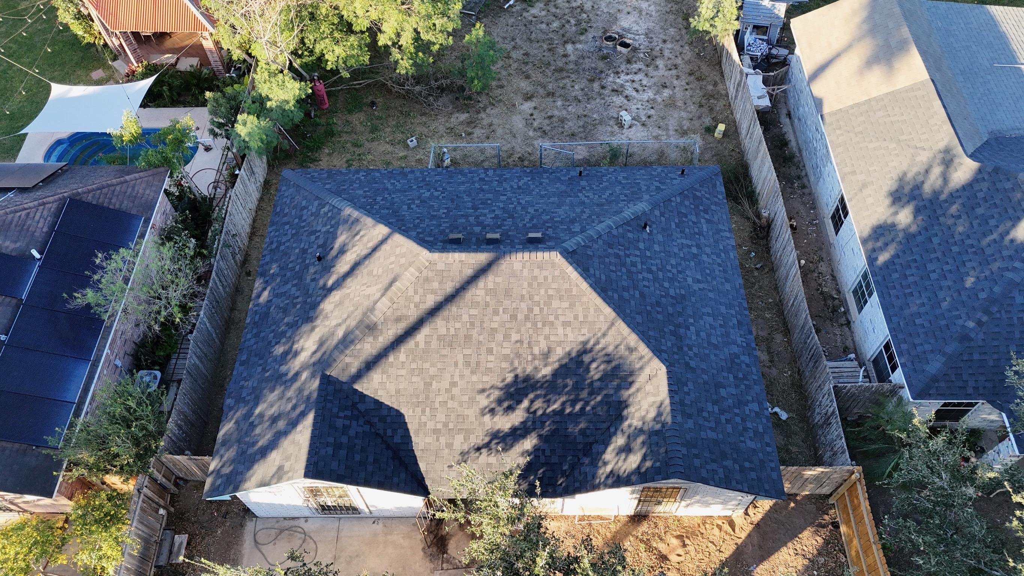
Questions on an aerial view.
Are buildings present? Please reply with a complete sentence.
Yes, the picture does show a building.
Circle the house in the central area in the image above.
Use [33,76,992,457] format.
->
[204,164,789,521]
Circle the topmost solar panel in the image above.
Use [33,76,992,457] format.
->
[0,163,67,188]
